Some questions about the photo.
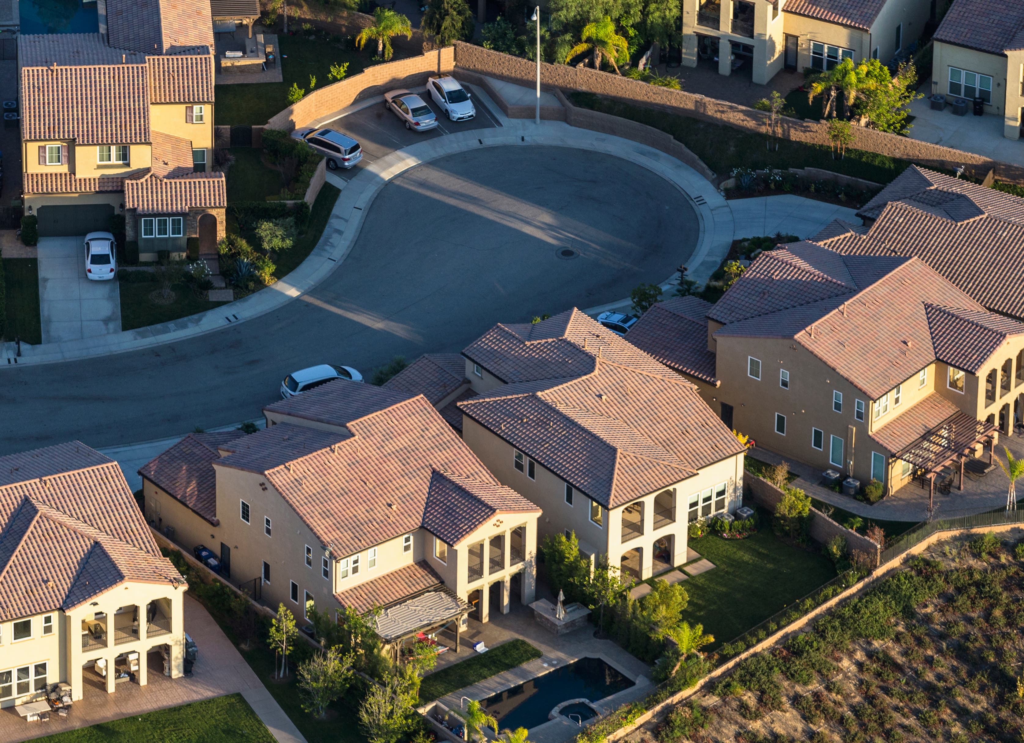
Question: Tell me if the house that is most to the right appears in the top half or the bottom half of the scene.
top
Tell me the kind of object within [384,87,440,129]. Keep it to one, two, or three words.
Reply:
car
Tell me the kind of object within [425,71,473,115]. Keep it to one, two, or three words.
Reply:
car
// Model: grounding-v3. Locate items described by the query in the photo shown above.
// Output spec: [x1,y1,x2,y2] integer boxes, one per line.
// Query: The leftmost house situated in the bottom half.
[0,438,191,709]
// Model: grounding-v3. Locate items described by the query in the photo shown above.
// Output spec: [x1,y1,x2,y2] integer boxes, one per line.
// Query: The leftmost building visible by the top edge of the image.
[20,0,228,261]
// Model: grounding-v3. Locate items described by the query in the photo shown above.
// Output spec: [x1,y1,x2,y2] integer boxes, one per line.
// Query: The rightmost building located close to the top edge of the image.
[931,0,1024,141]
